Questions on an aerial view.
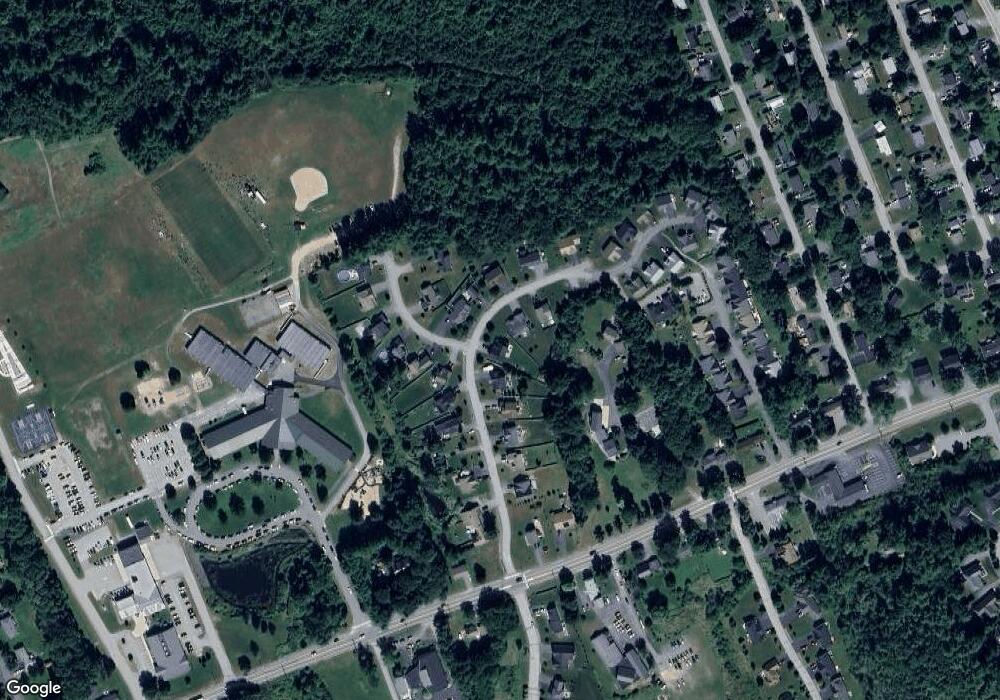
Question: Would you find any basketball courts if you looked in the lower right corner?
No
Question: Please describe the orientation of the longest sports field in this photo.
diagonally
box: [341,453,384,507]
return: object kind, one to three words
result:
playground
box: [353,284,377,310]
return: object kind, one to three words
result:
house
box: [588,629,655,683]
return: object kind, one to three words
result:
building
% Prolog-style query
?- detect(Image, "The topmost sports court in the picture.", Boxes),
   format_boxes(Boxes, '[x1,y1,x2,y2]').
[241,292,281,328]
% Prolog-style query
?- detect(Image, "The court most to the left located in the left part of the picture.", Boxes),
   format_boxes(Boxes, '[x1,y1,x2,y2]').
[12,408,58,454]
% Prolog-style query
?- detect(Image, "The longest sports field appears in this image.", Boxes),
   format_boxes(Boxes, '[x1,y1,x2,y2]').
[152,159,265,288]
